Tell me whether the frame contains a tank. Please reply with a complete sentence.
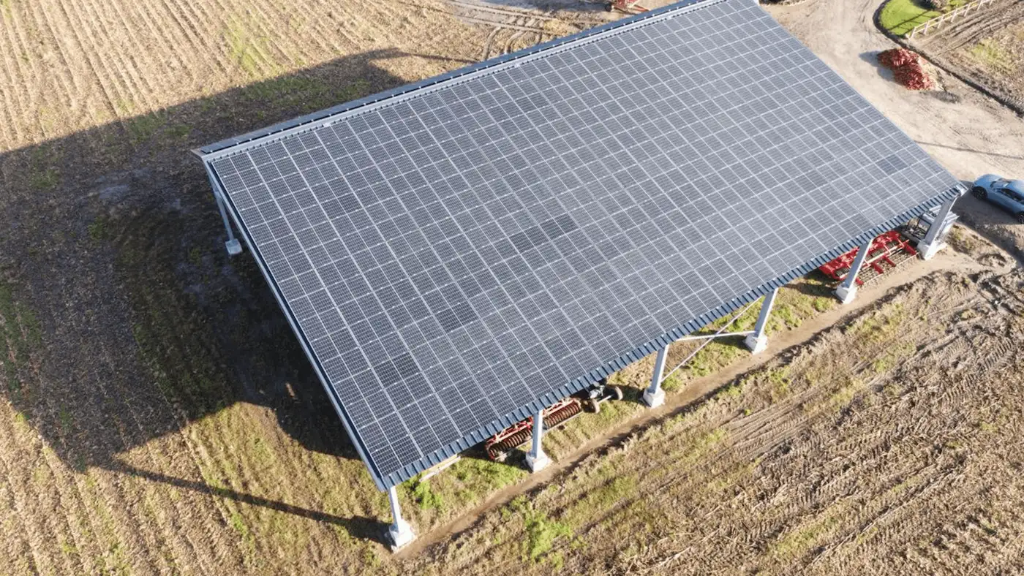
No, I can see no tank in this picture.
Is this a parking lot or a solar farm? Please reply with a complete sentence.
What you see here is a solar farm.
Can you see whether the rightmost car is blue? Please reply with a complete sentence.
Yes, the rightmost car appears blue.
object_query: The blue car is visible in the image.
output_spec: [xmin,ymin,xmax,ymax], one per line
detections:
[973,173,1024,223]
